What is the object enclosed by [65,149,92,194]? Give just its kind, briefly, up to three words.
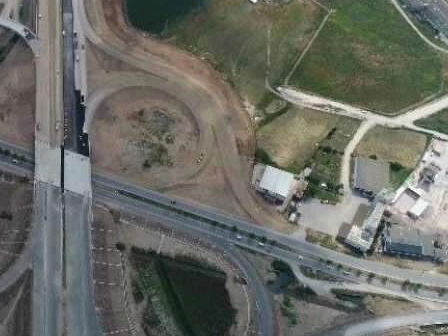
overpass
